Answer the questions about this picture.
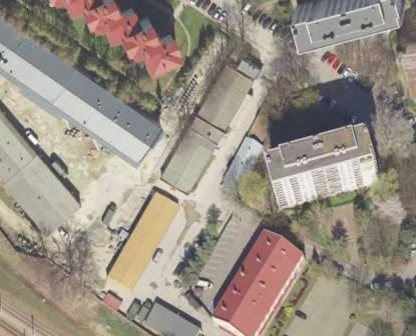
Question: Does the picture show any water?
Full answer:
No, the scene doesn't show any water.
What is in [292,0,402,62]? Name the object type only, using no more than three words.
building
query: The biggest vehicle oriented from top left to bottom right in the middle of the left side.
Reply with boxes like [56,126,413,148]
[48,157,67,177]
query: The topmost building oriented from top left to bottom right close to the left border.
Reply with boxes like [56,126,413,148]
[0,21,165,169]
